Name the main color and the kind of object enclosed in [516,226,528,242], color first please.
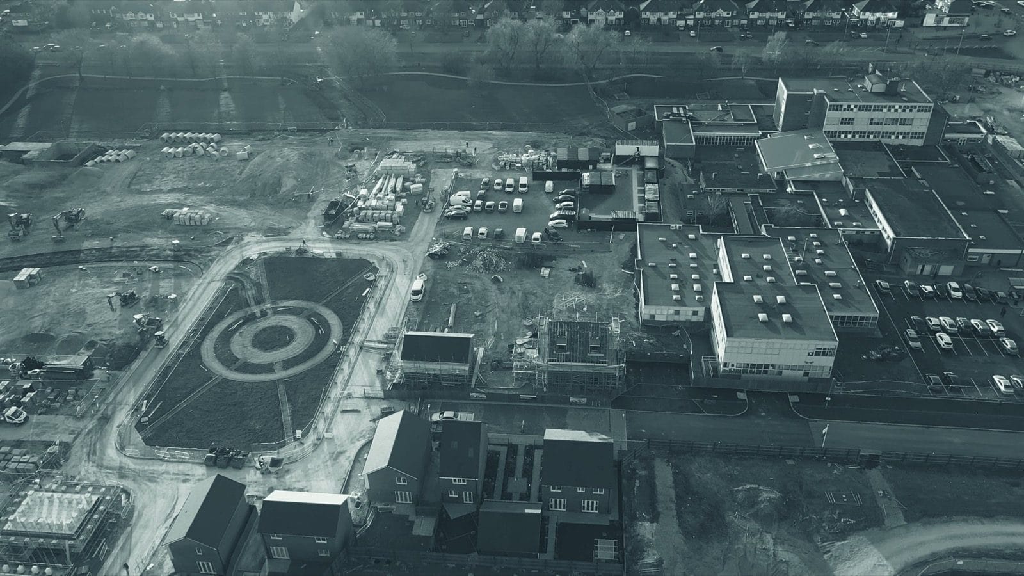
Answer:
white vehicle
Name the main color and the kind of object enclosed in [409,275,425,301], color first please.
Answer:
white vehicle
